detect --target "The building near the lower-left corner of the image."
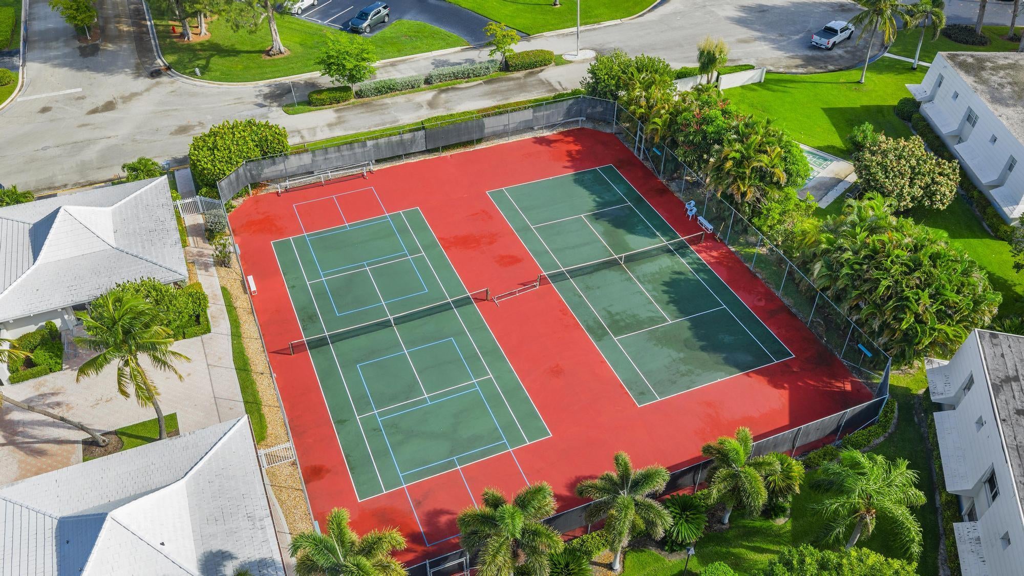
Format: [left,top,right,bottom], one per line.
[0,413,287,576]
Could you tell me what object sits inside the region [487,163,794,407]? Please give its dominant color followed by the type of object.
green tennis court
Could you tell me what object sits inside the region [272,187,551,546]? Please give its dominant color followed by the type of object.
green tennis court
